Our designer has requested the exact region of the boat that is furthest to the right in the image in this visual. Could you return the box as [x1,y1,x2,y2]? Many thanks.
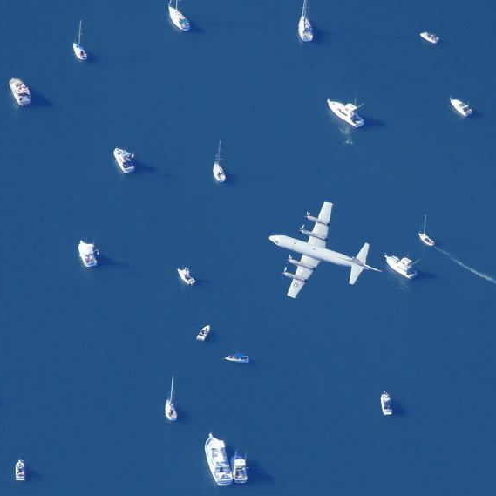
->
[450,99,472,118]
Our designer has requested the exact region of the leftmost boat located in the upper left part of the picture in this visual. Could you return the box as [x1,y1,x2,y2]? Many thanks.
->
[10,77,32,107]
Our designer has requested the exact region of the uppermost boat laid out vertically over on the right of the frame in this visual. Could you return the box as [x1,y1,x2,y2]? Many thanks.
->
[299,0,313,42]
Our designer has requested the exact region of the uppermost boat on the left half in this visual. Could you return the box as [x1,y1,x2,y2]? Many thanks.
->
[169,0,191,32]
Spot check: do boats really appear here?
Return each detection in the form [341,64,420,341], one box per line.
[165,376,178,421]
[74,36,88,60]
[420,34,441,44]
[169,0,191,32]
[79,239,100,268]
[419,217,436,246]
[227,453,253,486]
[178,268,196,285]
[226,354,251,363]
[299,0,313,42]
[114,148,136,175]
[382,393,393,417]
[206,434,233,488]
[385,254,418,280]
[450,99,472,118]
[196,326,211,342]
[10,77,32,107]
[326,96,366,129]
[15,460,25,483]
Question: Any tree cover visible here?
No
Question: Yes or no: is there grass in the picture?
No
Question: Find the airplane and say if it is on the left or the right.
right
